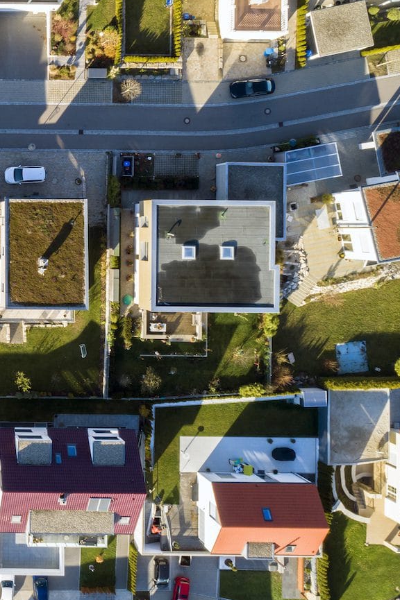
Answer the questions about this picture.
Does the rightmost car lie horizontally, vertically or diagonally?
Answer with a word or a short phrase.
horizontally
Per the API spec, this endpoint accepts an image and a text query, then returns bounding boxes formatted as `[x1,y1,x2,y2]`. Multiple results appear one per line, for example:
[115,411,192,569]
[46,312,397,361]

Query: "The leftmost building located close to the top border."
[209,0,289,45]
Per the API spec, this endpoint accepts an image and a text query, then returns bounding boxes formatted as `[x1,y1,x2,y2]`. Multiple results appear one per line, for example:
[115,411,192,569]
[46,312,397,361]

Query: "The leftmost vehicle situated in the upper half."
[4,164,48,184]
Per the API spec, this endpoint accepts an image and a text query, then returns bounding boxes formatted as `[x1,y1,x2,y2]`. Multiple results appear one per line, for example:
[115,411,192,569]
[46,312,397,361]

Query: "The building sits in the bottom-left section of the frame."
[0,421,147,576]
